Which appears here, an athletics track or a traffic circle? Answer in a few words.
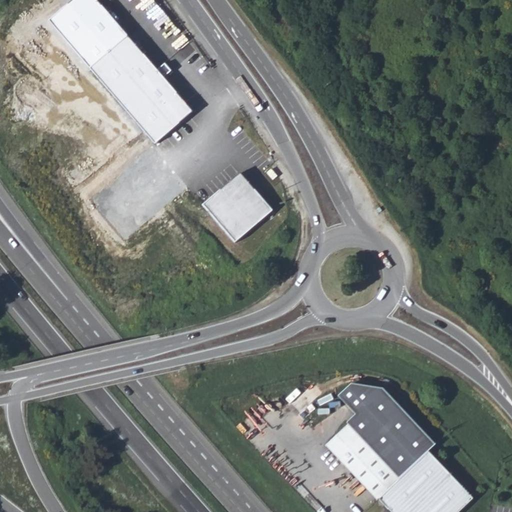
traffic circle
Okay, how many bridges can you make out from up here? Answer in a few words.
1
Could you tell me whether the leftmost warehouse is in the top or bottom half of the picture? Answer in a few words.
top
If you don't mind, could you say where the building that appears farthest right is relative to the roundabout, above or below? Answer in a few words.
below it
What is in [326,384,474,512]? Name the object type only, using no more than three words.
building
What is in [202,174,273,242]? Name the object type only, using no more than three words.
building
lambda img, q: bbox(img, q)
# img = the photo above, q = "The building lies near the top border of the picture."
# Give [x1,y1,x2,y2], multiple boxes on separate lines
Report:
[48,0,192,143]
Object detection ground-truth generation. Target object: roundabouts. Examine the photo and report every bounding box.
[278,187,414,331]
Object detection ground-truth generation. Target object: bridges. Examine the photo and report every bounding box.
[14,335,186,402]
